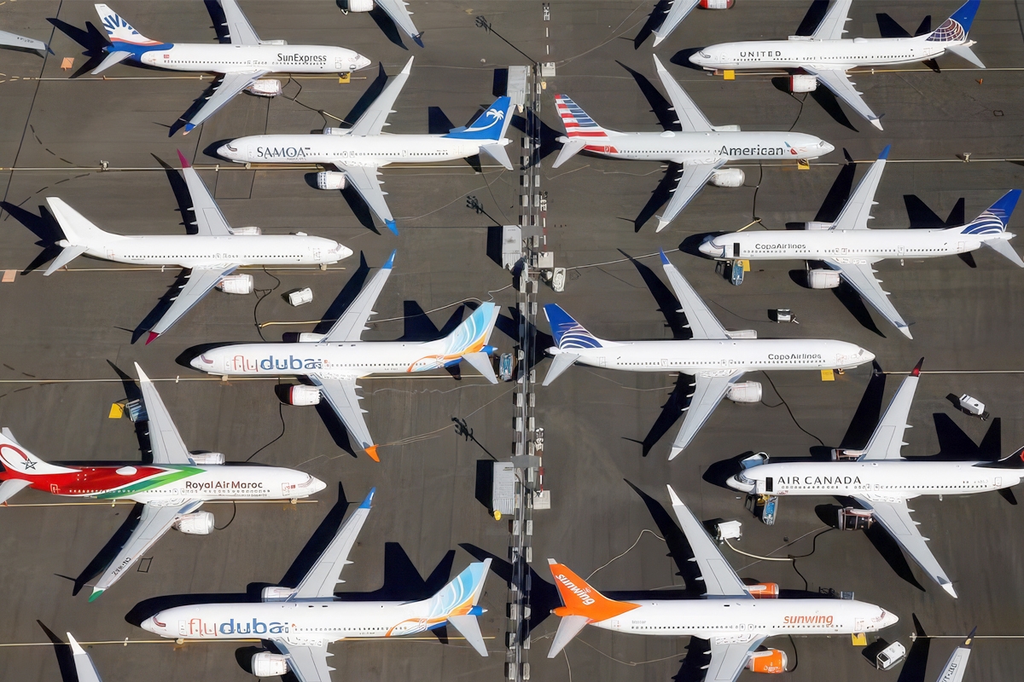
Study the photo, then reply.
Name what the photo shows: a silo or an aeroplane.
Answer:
aeroplane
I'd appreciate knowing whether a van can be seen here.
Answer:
Yes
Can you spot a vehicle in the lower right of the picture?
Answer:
Yes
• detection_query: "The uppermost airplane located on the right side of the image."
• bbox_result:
[653,0,734,46]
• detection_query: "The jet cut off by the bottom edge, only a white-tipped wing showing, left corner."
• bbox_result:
[67,632,99,682]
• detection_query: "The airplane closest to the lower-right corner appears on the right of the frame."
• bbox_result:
[942,626,978,682]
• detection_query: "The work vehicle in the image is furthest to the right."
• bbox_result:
[952,392,989,415]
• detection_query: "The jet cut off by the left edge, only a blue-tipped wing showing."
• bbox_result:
[0,30,54,54]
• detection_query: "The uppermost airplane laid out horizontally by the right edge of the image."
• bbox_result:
[687,0,985,130]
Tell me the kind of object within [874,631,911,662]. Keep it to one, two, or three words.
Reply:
van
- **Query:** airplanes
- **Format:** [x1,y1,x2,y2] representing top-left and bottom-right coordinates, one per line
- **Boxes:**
[546,485,900,682]
[0,363,326,600]
[0,30,54,54]
[942,626,978,682]
[725,358,1024,597]
[696,143,1024,339]
[188,248,502,462]
[44,150,352,345]
[552,54,837,232]
[67,632,99,682]
[687,0,985,130]
[92,0,371,134]
[541,247,878,463]
[347,0,425,48]
[215,57,517,235]
[653,0,734,46]
[141,486,492,682]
